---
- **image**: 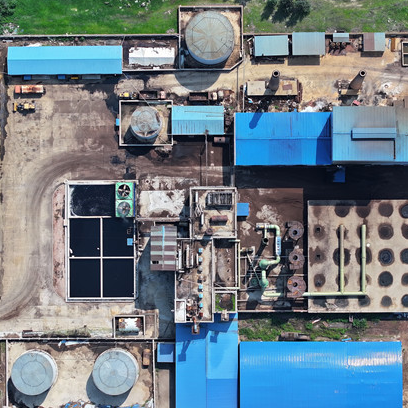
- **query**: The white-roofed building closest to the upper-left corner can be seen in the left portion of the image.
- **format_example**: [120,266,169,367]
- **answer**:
[127,47,176,66]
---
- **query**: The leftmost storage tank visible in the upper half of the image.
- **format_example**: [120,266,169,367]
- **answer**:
[131,106,166,141]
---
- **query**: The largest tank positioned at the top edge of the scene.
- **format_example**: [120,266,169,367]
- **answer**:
[184,10,234,64]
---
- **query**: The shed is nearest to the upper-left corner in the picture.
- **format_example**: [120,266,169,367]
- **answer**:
[6,45,123,76]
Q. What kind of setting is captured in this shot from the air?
industrial area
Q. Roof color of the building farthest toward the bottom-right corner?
blue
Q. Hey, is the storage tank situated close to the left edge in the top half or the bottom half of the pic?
bottom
